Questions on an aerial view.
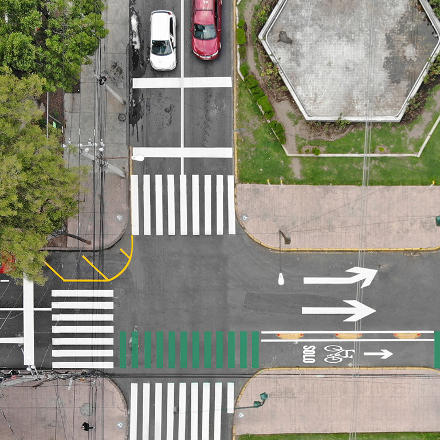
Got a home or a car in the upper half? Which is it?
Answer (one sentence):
Looking in the upper half, you will find a car.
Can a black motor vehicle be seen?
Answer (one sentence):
No, there appears to be no black motor vehicle in this shot.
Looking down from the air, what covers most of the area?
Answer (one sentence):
Most of the picture is covered by paved ground.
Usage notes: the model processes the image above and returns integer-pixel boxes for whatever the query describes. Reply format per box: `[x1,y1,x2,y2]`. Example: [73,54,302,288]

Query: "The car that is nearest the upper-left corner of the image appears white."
[143,6,176,69]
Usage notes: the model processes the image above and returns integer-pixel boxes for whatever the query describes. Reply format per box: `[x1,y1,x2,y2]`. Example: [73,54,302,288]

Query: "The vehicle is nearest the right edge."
[187,0,222,57]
